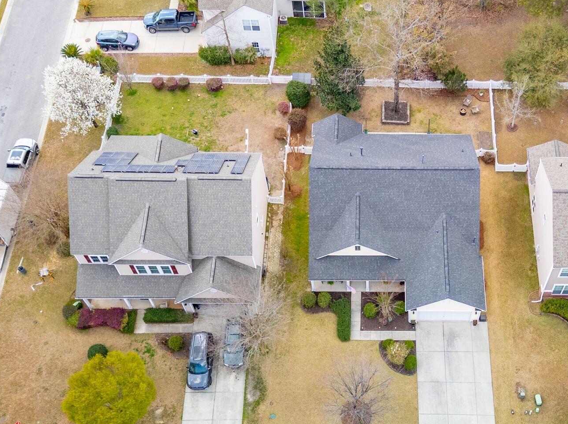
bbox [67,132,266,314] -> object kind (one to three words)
house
